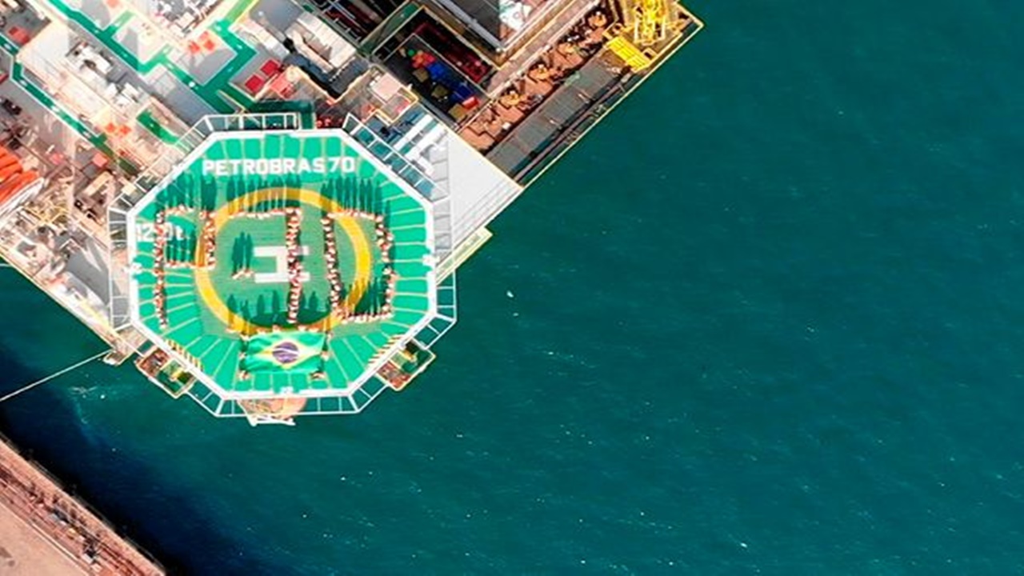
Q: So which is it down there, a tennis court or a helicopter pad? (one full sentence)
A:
Of the two, only a helicopter pad appears.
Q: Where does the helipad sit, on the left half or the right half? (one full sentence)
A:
The helipad sits on the left side.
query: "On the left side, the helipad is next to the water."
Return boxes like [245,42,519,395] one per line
[108,113,456,416]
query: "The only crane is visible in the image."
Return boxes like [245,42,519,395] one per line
[617,0,682,59]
